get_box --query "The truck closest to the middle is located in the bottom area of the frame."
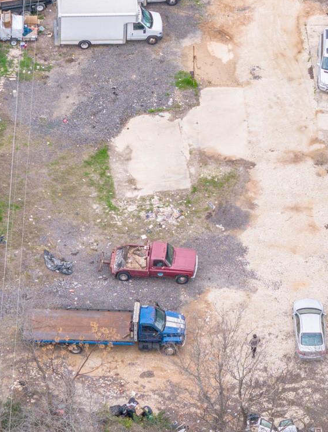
[94,248,202,291]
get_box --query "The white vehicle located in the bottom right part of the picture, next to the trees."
[288,303,327,367]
